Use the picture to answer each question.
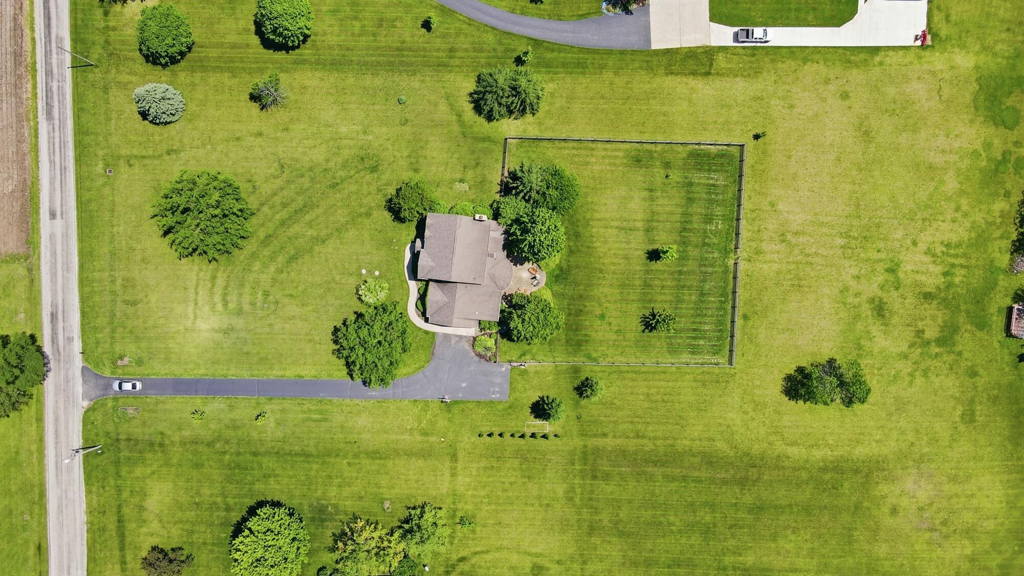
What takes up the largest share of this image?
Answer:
grass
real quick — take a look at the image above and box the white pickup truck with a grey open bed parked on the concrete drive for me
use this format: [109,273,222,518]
[736,26,773,43]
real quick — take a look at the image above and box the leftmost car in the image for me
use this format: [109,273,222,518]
[113,379,144,393]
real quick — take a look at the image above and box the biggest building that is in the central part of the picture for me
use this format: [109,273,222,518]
[414,213,513,329]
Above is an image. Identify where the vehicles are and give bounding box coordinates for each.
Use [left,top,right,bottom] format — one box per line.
[113,379,144,393]
[736,26,773,43]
